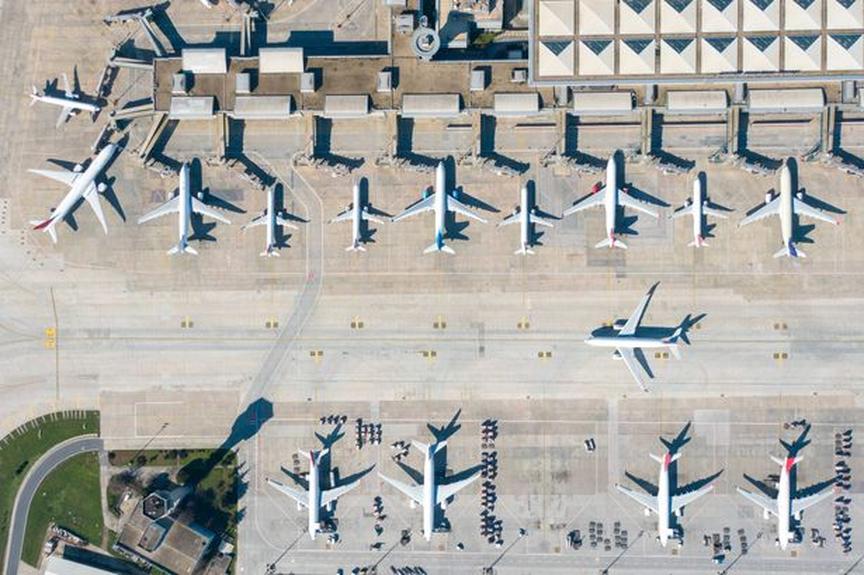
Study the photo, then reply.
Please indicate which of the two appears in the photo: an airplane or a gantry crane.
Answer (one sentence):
The image shows an airplane.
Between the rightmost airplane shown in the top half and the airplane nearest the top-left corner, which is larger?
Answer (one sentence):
The larger object is the rightmost airplane shown in the top half, with the airplane nearest the top-left corner being the smaller of the pair.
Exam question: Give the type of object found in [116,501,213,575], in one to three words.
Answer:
building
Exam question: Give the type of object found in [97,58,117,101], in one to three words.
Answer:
jet bridge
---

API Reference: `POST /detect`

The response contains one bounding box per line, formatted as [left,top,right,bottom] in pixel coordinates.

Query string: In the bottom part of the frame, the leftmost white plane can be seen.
[265,449,361,539]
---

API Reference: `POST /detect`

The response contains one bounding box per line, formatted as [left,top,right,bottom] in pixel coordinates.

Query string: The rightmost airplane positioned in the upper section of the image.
[738,163,843,258]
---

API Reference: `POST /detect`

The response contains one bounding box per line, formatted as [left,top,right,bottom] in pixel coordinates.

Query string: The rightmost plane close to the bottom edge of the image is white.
[740,456,840,549]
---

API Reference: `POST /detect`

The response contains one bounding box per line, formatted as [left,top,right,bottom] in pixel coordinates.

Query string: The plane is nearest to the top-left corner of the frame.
[27,72,100,127]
